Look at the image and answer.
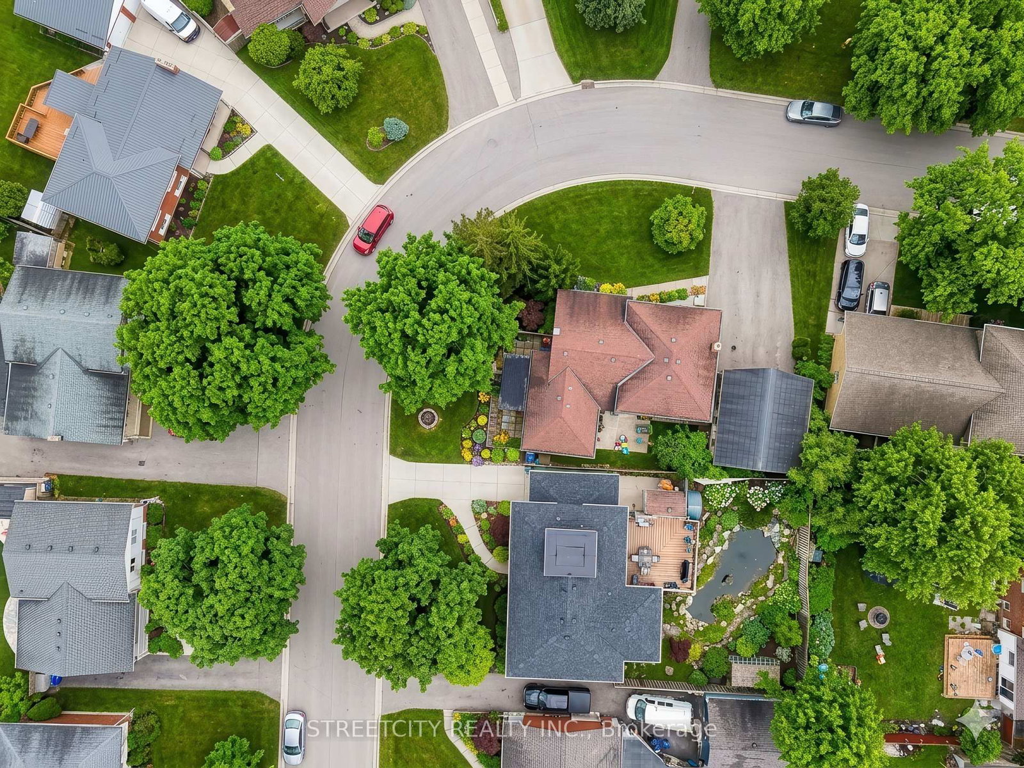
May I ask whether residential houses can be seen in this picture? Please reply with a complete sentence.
Yes, a residential house is visible in the scene.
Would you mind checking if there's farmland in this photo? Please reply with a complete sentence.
No, farmland can't be seen anywhere here.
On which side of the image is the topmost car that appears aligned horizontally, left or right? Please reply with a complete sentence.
It is on the right.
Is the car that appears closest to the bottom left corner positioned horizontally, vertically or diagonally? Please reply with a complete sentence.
From this overhead view, the car that appears closest to the bottom left corner appears to run vertically.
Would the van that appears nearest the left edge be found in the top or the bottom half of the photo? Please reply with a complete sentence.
It is in the top half that the van that appears nearest the left edge appears.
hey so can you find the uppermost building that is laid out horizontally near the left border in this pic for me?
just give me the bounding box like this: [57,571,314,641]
[12,0,138,53]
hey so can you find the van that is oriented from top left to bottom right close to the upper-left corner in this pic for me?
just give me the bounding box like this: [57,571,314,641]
[133,0,203,47]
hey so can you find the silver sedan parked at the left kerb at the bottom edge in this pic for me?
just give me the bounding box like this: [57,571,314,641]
[280,708,308,765]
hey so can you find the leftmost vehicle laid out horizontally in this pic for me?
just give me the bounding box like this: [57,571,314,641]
[523,683,591,713]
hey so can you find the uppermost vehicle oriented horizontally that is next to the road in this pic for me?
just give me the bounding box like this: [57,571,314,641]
[785,98,841,127]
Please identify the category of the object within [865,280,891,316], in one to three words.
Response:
car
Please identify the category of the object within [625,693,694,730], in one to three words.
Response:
van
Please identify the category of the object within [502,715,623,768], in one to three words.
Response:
house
